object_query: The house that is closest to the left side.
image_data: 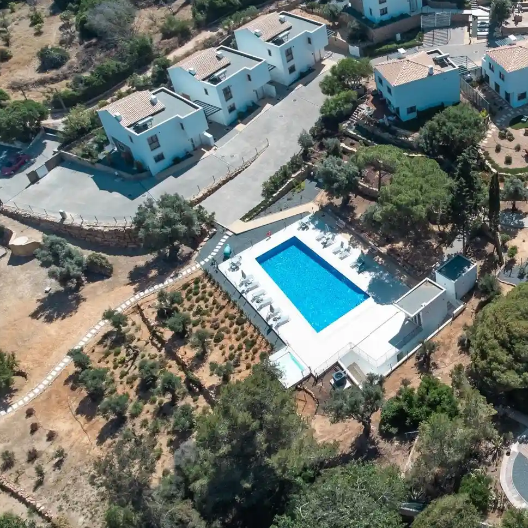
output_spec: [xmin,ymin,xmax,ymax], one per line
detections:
[96,84,214,175]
